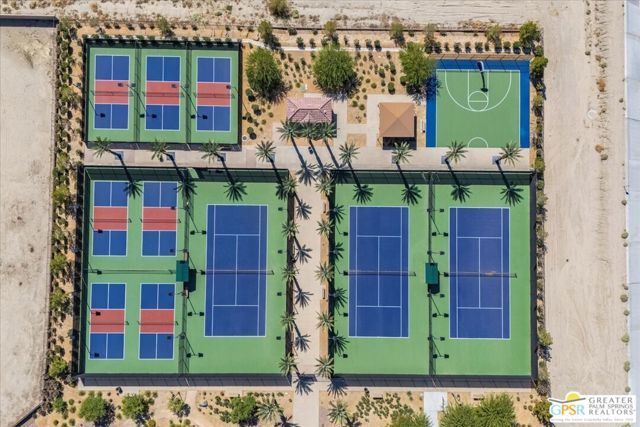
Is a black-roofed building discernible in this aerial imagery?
No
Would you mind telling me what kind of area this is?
sports ground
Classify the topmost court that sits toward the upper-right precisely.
basketball court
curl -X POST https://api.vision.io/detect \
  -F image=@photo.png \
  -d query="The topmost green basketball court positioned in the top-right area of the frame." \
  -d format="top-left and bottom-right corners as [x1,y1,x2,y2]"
[426,59,530,148]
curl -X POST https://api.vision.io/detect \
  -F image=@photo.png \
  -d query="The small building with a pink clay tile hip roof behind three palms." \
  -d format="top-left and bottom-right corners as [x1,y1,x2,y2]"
[288,98,332,124]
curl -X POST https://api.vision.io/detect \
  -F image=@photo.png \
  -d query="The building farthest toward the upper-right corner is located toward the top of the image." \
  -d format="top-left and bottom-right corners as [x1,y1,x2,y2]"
[379,103,415,138]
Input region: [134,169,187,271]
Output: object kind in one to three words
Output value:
sports court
